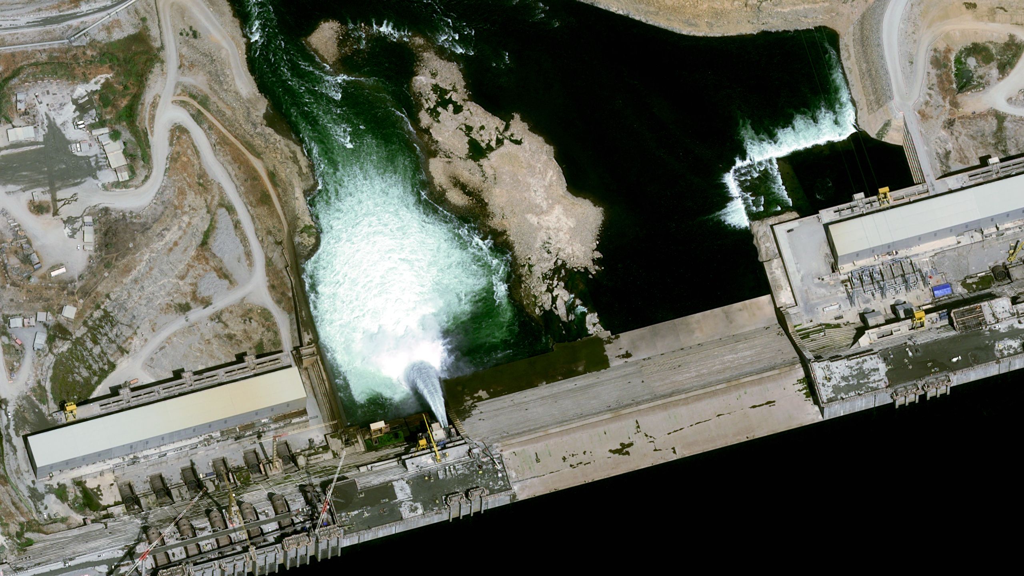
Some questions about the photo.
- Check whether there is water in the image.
Yes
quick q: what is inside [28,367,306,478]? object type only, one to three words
building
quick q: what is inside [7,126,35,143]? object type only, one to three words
shed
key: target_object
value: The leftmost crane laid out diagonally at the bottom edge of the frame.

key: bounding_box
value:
[122,488,205,576]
